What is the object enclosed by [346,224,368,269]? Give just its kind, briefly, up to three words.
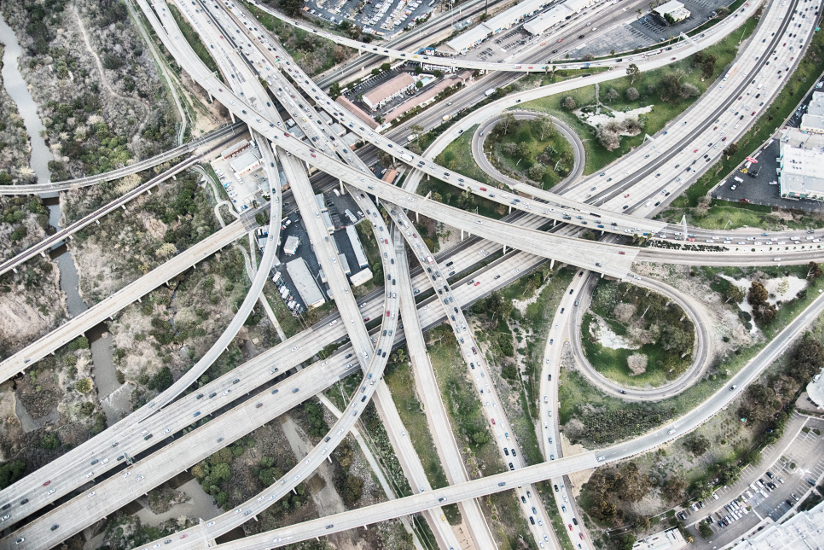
building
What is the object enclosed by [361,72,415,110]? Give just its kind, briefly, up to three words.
building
